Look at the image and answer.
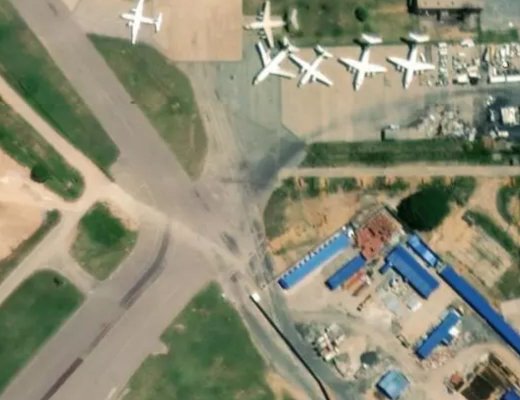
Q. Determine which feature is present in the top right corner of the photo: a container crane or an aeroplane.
aeroplane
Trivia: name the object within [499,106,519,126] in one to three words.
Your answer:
shed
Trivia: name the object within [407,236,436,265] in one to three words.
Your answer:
shed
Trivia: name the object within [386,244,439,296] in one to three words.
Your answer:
building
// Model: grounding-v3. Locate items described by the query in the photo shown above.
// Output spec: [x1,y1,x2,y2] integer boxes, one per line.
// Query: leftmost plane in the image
[120,0,164,43]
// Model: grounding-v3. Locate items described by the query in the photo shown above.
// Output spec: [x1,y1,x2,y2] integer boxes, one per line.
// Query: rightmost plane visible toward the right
[389,33,436,89]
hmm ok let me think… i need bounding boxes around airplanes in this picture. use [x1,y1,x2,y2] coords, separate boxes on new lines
[340,34,388,90]
[120,0,164,43]
[290,45,333,86]
[243,1,300,47]
[253,37,300,84]
[389,33,436,89]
